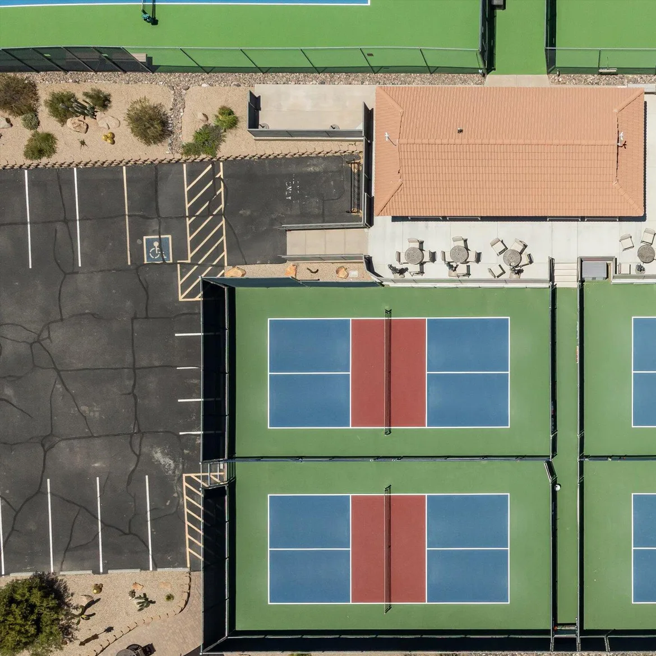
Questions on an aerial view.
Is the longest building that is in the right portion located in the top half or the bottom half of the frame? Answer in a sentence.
It is in the top half that the longest building that is in the right portion appears.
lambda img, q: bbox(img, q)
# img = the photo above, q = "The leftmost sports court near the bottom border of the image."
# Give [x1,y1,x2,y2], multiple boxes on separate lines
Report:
[227,461,553,635]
